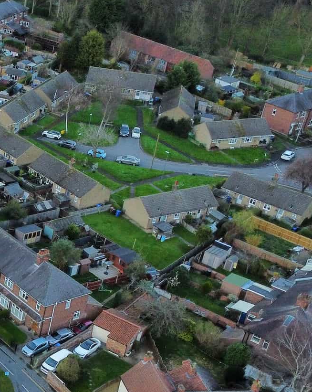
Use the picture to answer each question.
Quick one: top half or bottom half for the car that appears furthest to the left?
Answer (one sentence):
It is in the bottom half that the car that appears furthest to the left appears.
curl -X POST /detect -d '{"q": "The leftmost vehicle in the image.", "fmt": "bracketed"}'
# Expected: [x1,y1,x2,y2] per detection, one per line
[19,335,50,357]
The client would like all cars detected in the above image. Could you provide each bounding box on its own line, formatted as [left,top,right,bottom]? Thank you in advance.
[132,126,141,138]
[56,139,79,150]
[120,124,130,135]
[44,348,73,369]
[19,335,50,357]
[47,331,69,350]
[42,130,63,140]
[116,156,141,167]
[279,149,297,160]
[86,149,108,160]
[72,338,102,358]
